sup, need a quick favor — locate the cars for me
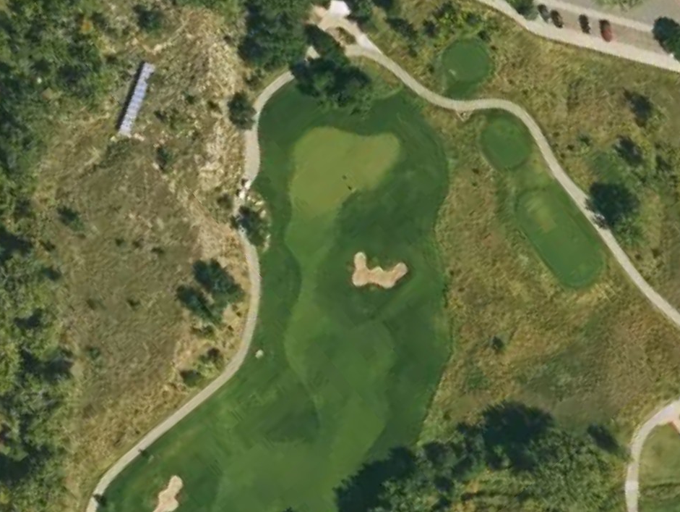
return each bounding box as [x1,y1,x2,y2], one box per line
[551,9,564,28]
[601,20,612,41]
[579,14,591,33]
[539,3,551,23]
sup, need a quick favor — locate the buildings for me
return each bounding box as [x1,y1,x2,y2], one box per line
[119,61,157,136]
[329,0,350,17]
